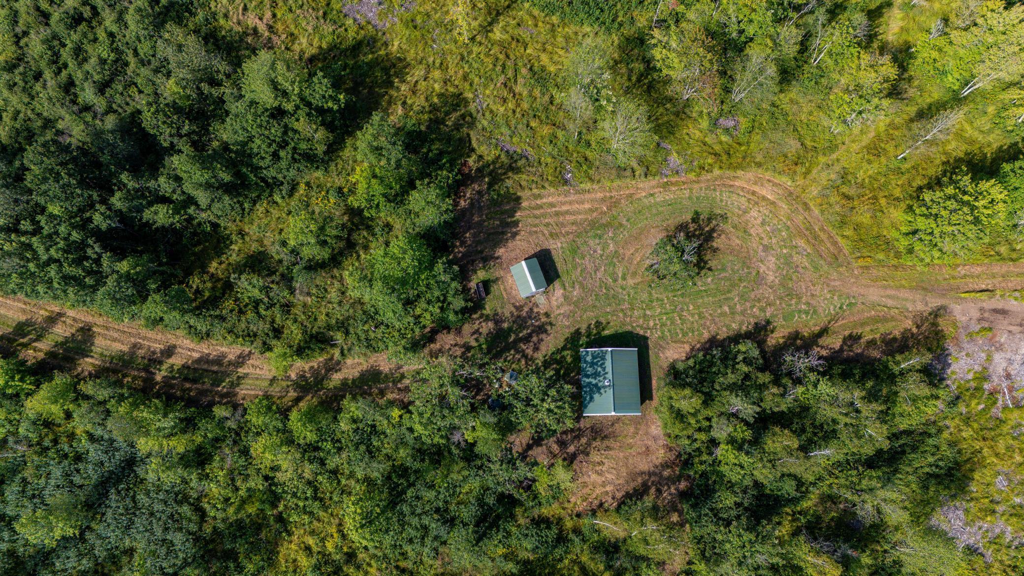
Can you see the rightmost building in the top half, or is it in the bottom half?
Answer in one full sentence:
Seen from above, the rightmost building lies in the bottom half of the view.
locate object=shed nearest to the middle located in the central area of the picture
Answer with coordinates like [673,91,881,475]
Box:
[510,258,548,299]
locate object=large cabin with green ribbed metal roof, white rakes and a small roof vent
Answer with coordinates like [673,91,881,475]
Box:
[580,348,642,418]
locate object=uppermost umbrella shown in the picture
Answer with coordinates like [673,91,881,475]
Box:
[504,370,518,385]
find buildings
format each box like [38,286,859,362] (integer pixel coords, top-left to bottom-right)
[580,348,642,418]
[510,258,548,299]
